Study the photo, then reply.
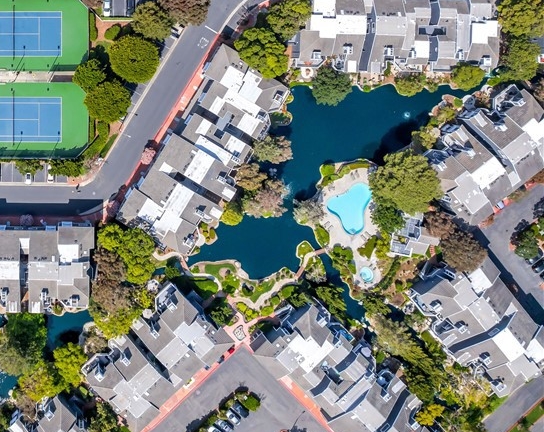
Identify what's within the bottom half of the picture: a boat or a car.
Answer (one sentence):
What appears within the bottom half of the picture is a car.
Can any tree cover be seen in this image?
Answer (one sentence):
Yes, the picture does contain tree cover.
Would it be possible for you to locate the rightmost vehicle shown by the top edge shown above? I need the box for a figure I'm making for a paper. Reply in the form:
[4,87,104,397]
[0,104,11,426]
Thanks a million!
[219,20,235,40]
